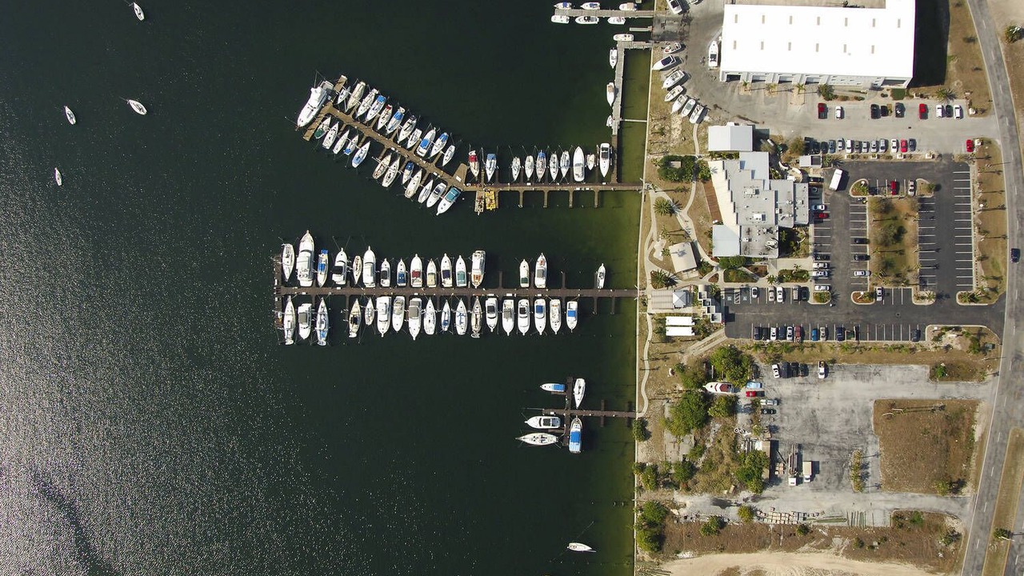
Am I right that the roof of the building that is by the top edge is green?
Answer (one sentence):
No, the roof of the building that is by the top edge is actually white.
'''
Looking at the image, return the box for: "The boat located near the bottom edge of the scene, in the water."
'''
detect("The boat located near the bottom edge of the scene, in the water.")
[565,541,592,555]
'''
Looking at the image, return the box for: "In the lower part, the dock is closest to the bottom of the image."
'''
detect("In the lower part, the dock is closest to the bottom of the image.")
[543,376,636,447]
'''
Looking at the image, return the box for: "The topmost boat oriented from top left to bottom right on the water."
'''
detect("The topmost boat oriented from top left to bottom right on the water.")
[124,0,146,22]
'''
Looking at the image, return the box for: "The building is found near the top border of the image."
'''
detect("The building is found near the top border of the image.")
[722,0,916,95]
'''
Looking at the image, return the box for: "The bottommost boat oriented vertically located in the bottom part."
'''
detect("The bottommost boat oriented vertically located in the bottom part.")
[569,417,582,454]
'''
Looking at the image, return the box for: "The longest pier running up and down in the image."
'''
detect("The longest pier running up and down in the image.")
[611,39,652,183]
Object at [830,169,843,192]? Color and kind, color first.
white vehicle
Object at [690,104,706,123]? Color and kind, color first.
white boat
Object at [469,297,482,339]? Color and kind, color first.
white boat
